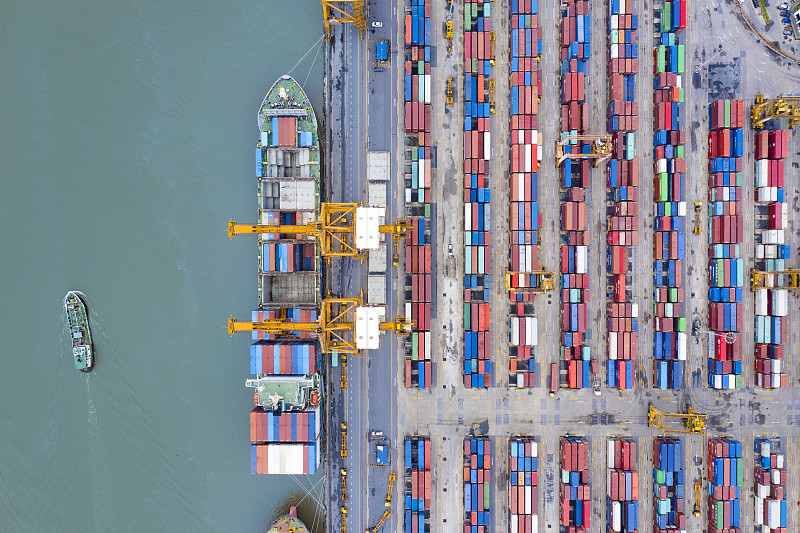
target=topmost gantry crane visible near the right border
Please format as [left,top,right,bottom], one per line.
[752,95,800,131]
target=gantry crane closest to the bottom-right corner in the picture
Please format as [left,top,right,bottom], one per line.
[649,401,712,438]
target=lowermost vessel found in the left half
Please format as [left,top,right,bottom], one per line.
[266,506,311,533]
